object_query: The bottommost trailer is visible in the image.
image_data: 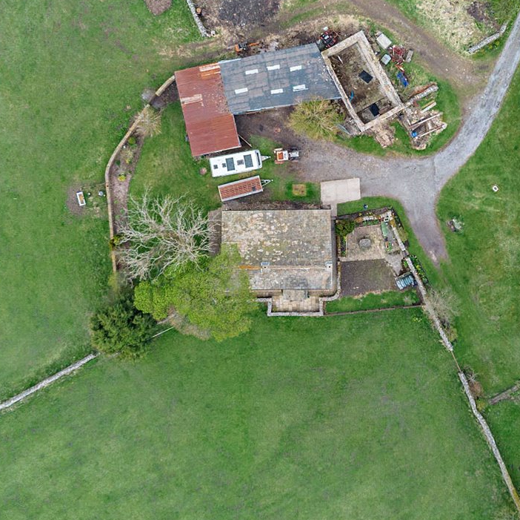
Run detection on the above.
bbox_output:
[218,174,269,203]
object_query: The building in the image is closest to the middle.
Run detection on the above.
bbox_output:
[219,207,335,301]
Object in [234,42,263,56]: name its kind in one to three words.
vehicle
